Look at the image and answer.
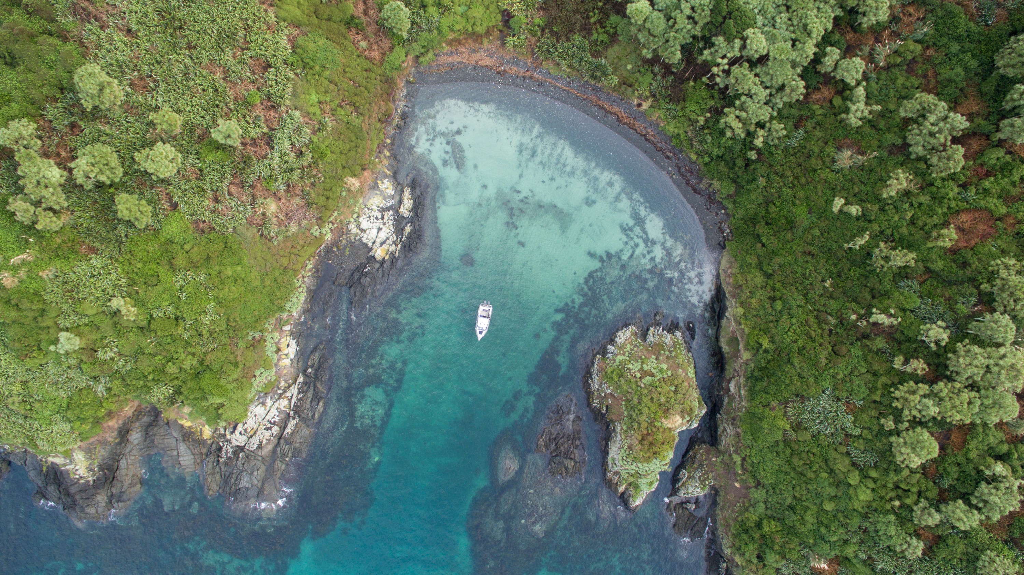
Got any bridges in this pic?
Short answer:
No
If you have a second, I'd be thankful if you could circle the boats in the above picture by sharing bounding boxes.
[476,301,492,342]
